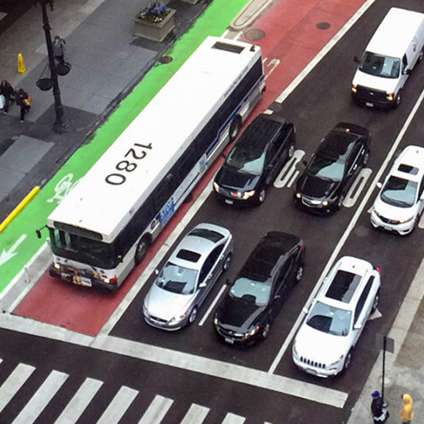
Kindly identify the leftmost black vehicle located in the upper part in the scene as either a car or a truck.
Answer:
car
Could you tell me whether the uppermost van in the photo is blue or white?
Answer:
white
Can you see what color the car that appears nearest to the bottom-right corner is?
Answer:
white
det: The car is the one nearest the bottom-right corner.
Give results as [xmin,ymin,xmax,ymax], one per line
[286,258,381,382]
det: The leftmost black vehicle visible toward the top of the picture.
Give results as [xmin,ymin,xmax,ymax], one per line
[208,109,298,210]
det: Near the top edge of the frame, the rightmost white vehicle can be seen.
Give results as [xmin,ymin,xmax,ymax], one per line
[345,9,424,112]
